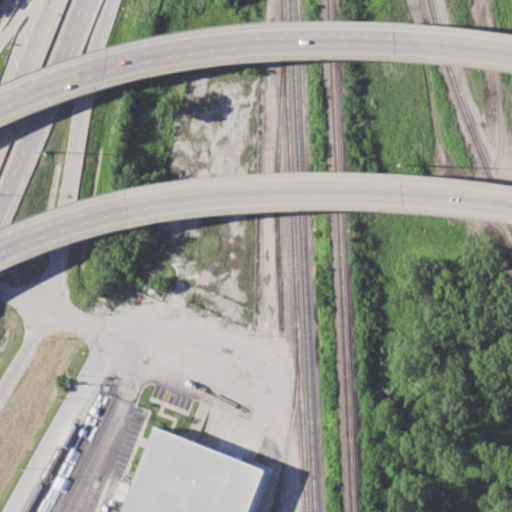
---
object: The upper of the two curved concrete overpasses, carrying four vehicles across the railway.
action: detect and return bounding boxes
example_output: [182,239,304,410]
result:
[0,22,512,126]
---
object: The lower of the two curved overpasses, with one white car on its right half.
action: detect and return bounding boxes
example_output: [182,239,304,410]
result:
[0,173,512,270]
